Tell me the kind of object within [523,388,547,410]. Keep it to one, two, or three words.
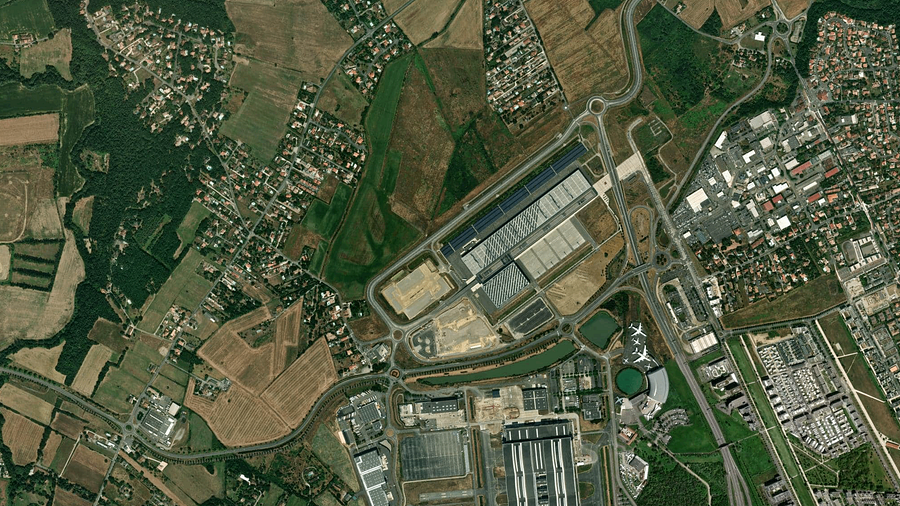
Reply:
hangar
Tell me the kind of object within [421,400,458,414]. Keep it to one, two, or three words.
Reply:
hangar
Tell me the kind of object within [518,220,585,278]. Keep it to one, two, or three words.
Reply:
building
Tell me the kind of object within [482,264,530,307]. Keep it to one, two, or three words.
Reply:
building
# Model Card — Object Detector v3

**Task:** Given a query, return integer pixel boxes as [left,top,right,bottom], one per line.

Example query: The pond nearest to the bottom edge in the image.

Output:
[416,341,575,385]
